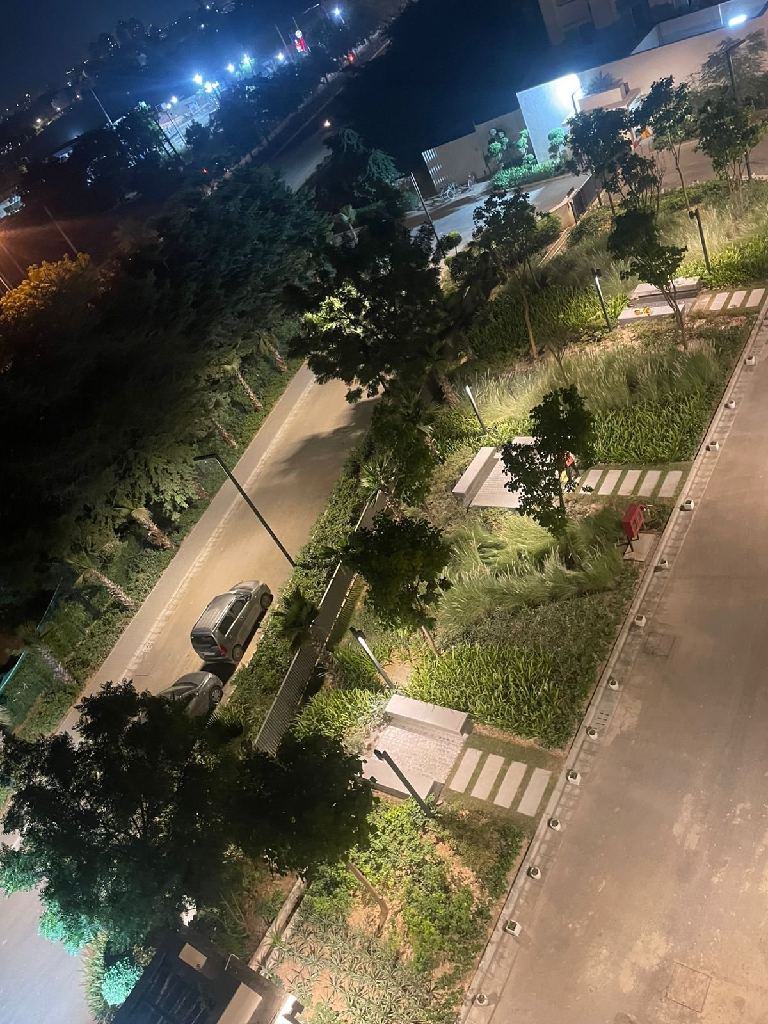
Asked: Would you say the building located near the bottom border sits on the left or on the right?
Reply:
left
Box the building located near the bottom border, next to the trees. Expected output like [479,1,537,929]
[113,924,292,1024]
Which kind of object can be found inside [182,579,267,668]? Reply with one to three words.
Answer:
car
